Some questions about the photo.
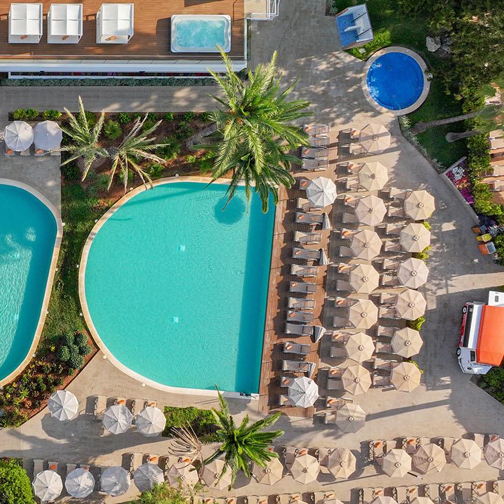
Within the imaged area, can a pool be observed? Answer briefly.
Yes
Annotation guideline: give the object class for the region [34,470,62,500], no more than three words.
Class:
umbrella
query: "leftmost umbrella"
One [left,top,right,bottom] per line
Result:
[5,121,34,150]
